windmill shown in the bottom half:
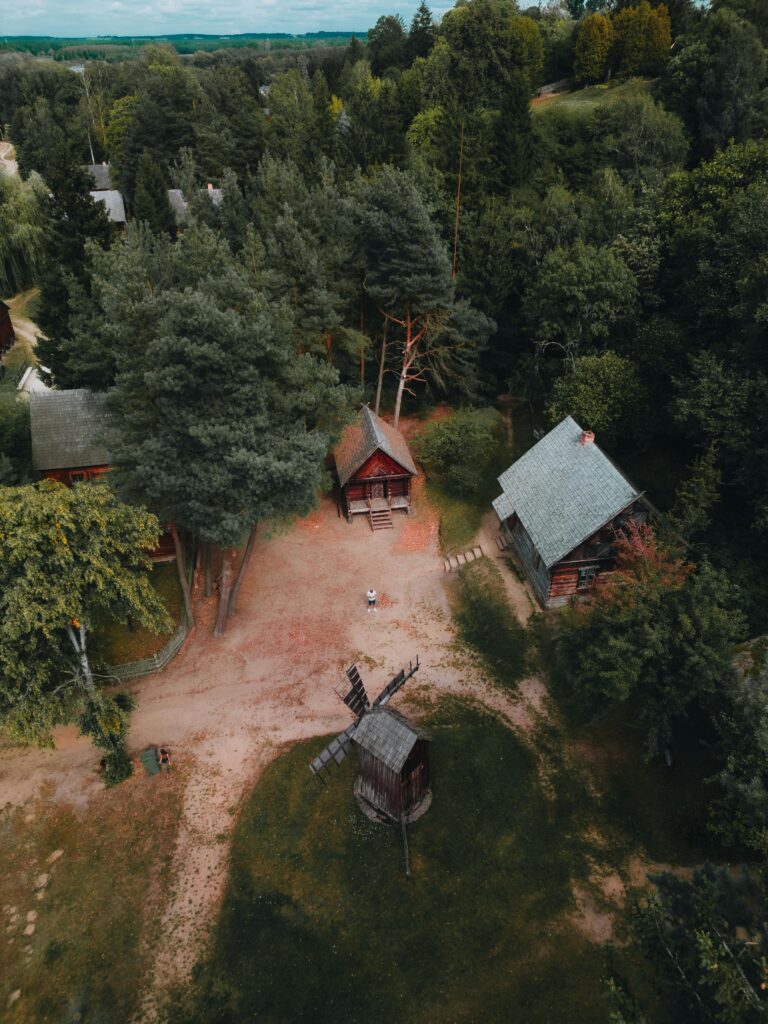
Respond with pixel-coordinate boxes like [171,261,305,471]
[306,658,438,879]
